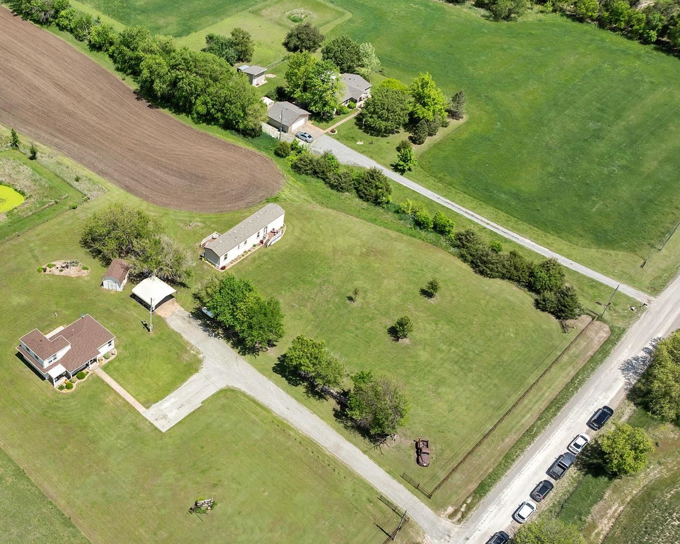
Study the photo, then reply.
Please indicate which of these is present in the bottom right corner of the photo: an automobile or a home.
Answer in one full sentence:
Looking in the bottom right corner of the photo, you will find an automobile.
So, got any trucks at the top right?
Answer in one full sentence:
No, I see no truck at the top right.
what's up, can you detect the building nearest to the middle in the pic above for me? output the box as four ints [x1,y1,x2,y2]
[195,203,288,266]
